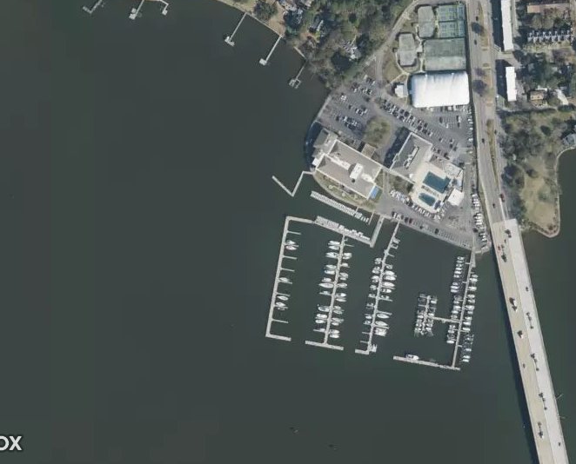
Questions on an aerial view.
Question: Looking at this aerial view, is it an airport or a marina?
marina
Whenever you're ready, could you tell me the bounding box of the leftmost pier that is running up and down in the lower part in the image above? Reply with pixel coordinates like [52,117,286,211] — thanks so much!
[265,216,313,344]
